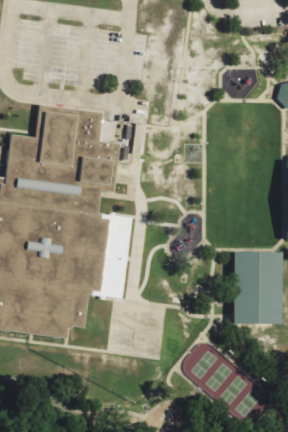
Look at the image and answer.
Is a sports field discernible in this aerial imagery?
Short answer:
Yes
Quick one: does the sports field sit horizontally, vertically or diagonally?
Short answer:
vertically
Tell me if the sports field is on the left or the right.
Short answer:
right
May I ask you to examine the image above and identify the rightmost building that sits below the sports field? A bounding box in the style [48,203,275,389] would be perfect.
[234,252,284,323]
